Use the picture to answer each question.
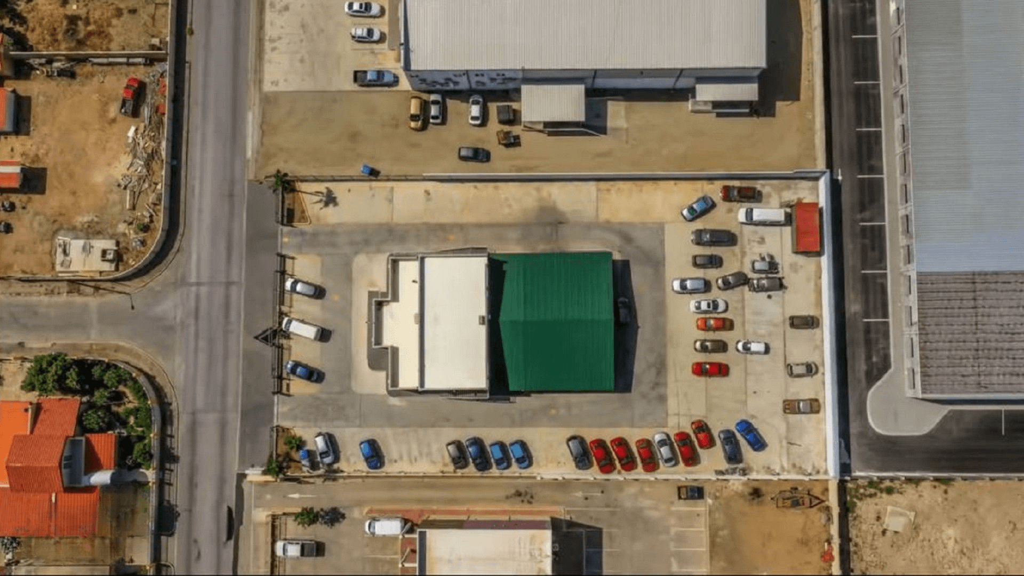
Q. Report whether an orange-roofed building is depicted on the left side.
Yes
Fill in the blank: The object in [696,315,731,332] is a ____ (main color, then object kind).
red car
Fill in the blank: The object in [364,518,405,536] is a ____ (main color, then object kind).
white vehicle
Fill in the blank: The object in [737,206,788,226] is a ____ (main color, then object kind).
white vehicle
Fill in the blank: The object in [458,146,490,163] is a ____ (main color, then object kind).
black car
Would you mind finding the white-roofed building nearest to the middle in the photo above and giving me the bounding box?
[372,254,493,390]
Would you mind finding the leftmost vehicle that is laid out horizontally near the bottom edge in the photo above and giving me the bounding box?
[276,540,317,559]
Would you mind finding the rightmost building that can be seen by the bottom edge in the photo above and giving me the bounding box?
[417,513,552,576]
